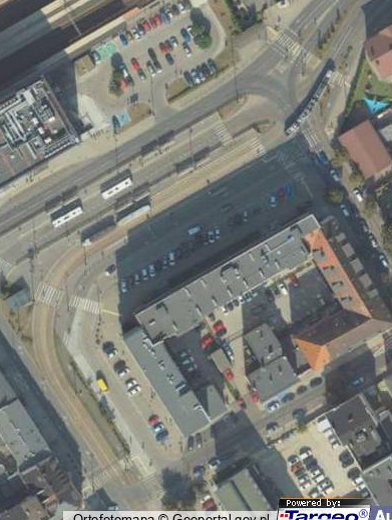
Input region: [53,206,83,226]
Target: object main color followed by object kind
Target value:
white vehicle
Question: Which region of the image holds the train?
top right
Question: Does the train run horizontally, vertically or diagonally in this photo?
diagonally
